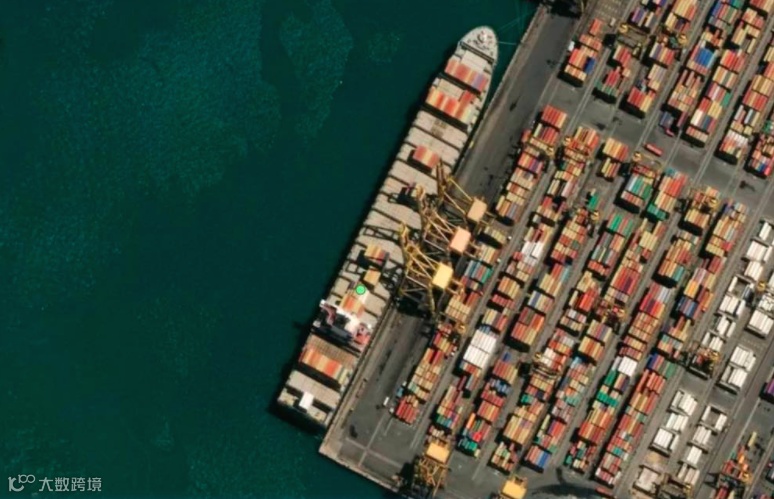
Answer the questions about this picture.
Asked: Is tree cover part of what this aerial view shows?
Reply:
No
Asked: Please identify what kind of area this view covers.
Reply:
port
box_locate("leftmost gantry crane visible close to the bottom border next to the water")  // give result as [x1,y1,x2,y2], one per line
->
[407,435,454,499]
